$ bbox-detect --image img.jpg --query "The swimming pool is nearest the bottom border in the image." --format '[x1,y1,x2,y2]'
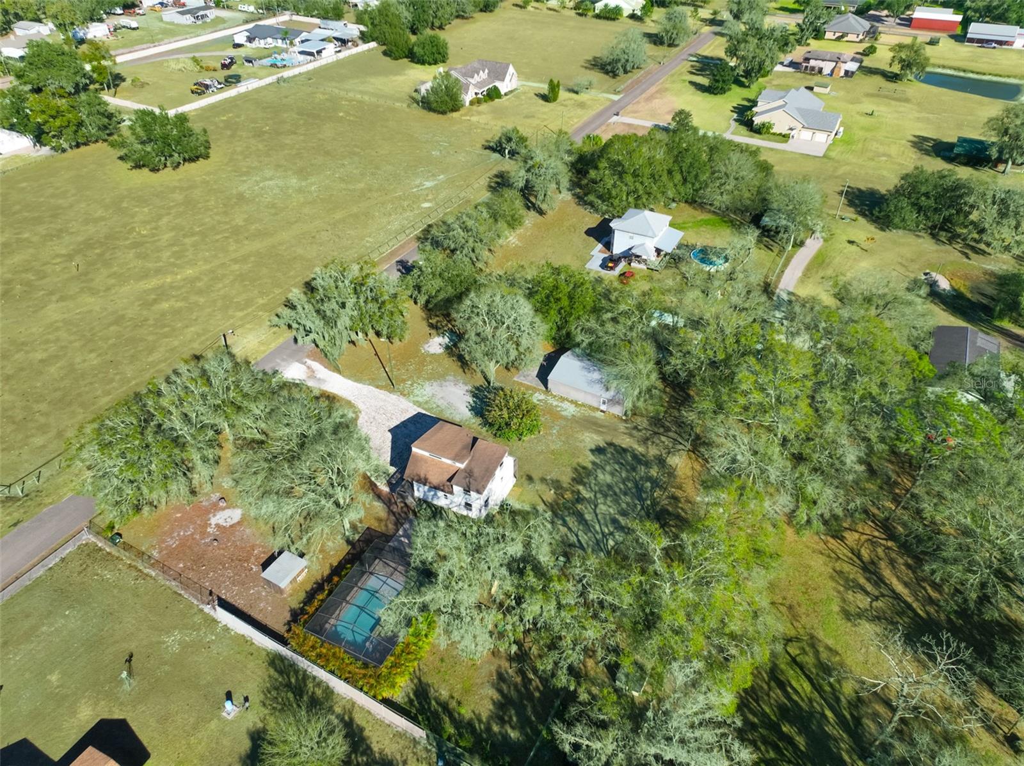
[314,555,440,665]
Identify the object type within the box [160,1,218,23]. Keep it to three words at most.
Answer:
house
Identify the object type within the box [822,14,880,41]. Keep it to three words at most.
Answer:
house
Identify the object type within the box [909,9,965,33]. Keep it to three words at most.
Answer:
barn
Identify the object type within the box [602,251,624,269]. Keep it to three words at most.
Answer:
vehicle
